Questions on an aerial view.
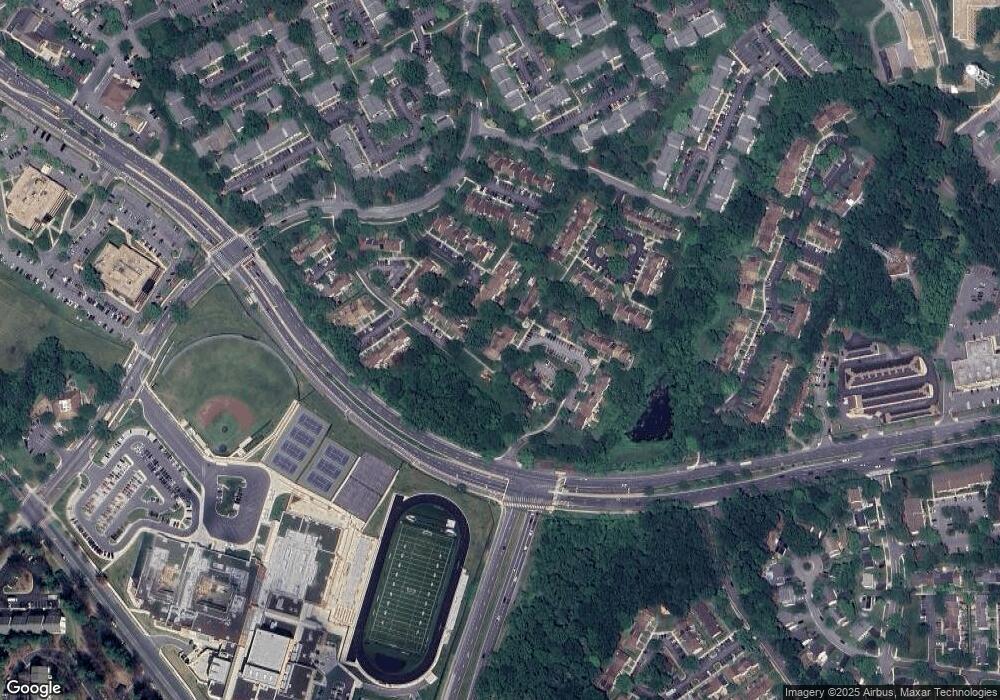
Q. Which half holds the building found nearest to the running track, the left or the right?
left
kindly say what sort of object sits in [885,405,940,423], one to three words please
building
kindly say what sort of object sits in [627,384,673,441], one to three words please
pond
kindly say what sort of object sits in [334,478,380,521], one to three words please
sports court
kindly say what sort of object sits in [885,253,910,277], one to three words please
house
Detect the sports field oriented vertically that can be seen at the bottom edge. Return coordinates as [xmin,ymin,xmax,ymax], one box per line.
[364,503,461,673]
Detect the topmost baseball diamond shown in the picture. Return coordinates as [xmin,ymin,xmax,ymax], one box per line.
[152,334,299,461]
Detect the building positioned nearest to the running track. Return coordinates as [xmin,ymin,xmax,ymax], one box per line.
[137,513,359,700]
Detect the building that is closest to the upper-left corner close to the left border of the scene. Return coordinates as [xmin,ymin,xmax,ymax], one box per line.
[9,9,50,48]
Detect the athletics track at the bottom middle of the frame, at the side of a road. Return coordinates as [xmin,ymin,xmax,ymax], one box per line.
[347,494,470,681]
